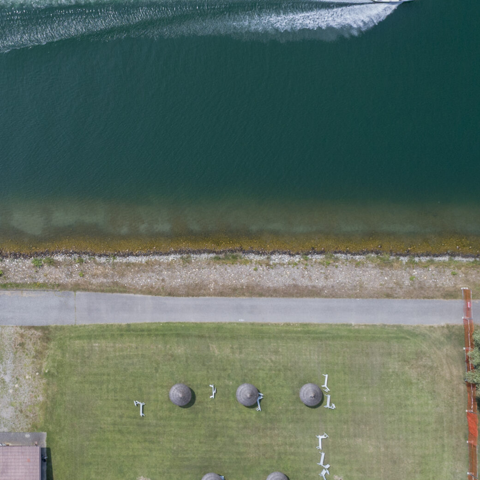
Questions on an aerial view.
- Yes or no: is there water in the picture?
Yes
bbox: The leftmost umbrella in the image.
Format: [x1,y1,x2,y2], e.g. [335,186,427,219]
[168,384,192,406]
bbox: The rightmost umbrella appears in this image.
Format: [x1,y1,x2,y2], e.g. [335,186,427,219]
[299,383,322,406]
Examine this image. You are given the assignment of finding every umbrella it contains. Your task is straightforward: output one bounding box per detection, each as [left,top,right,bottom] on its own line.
[202,473,223,480]
[168,384,192,406]
[235,384,258,406]
[299,383,322,406]
[267,472,287,480]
